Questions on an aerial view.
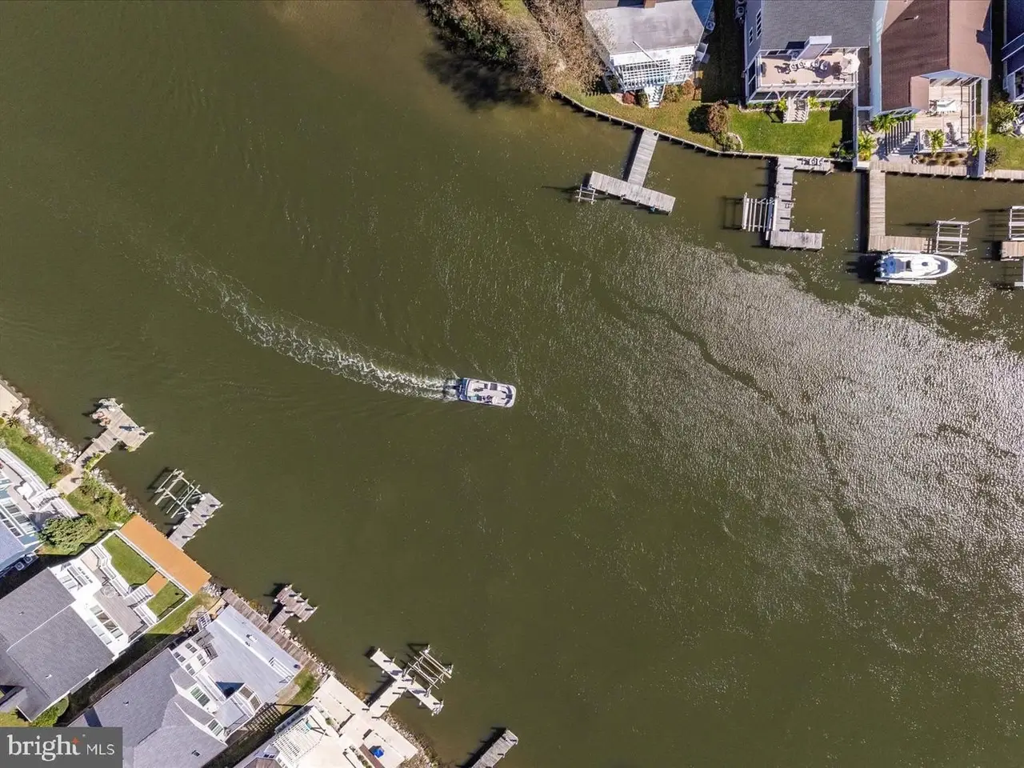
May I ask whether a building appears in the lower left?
Yes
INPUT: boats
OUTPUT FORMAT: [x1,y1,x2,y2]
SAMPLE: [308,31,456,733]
[871,253,962,280]
[456,378,516,407]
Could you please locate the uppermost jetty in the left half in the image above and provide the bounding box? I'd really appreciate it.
[76,397,158,467]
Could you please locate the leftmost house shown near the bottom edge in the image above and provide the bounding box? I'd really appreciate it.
[0,546,138,736]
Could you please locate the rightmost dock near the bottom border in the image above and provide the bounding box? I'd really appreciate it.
[472,724,519,768]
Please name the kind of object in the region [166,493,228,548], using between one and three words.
pier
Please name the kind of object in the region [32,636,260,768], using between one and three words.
house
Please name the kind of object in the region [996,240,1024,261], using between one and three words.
pier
